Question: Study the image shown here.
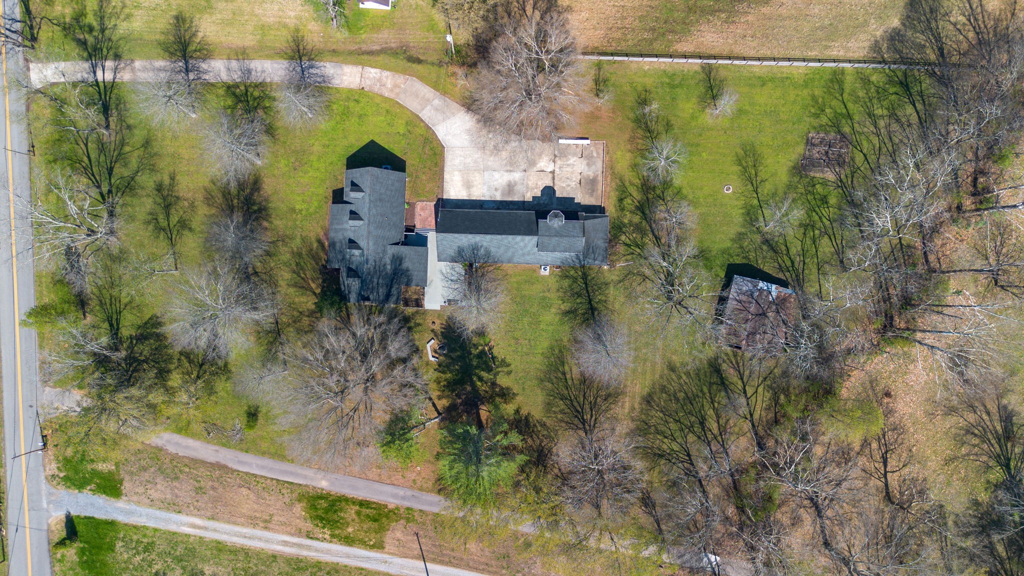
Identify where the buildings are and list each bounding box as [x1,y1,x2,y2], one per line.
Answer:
[436,208,610,266]
[353,0,392,9]
[716,275,795,348]
[327,167,429,304]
